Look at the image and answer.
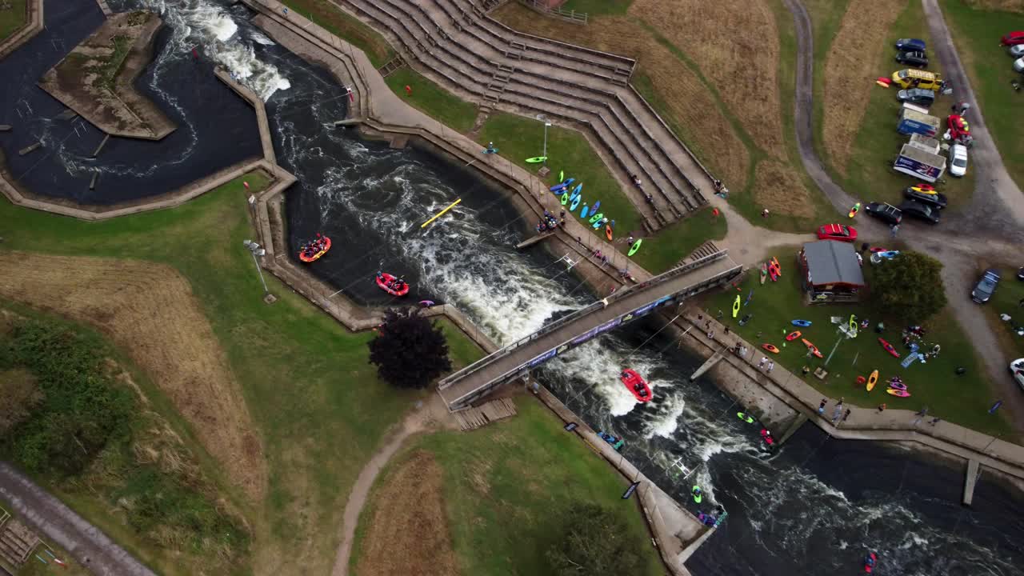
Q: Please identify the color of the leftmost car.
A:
red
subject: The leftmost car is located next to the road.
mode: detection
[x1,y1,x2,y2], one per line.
[815,222,860,245]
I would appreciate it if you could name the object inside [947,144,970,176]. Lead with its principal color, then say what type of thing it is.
white car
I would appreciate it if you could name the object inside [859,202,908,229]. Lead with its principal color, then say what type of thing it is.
black car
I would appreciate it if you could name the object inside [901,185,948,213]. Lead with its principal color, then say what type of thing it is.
black car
